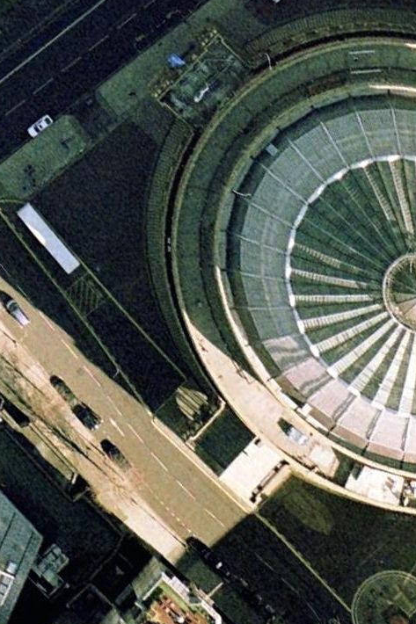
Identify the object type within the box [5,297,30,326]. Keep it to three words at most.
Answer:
car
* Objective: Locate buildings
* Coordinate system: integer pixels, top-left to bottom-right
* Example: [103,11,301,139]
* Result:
[0,488,42,624]
[121,549,231,624]
[152,18,416,517]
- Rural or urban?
urban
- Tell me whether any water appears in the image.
No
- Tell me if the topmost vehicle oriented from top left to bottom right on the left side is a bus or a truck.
bus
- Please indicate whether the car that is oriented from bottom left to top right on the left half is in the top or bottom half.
top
